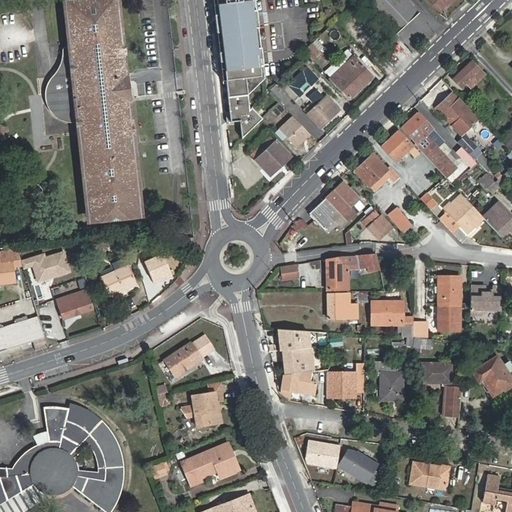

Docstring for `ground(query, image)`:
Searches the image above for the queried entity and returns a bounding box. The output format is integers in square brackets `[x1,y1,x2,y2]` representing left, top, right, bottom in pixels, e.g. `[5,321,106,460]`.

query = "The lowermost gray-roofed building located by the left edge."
[0,403,123,512]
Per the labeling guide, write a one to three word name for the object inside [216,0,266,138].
building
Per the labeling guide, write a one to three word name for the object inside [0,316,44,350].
building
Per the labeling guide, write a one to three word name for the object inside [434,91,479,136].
house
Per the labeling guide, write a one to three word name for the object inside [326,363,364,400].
house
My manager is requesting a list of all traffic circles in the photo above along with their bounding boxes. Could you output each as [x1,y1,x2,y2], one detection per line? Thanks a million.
[192,211,270,302]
